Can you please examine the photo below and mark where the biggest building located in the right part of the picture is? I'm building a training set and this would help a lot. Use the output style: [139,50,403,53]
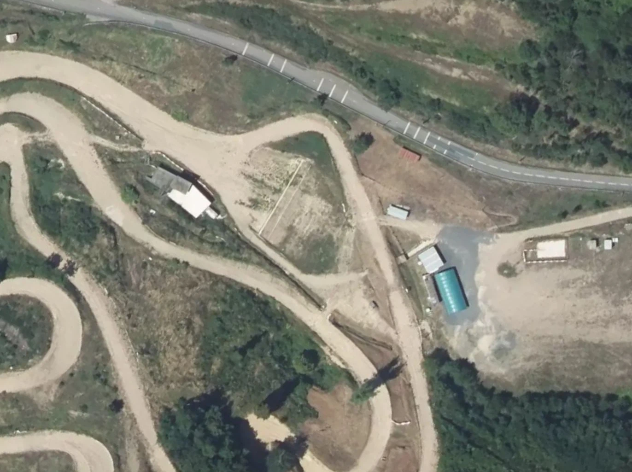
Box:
[435,268,469,314]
